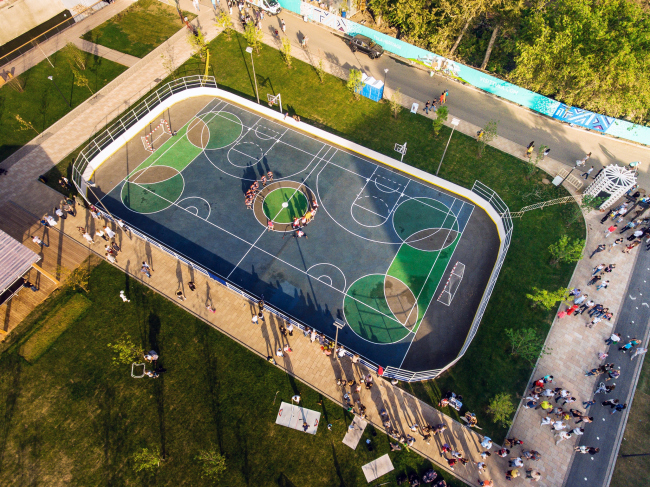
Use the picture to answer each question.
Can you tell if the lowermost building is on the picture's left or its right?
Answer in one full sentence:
You can find the lowermost building on the left side of the picture.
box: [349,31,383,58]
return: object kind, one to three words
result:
car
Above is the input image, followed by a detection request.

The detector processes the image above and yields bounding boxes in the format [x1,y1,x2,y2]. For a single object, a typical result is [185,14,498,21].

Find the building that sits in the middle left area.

[0,227,58,323]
